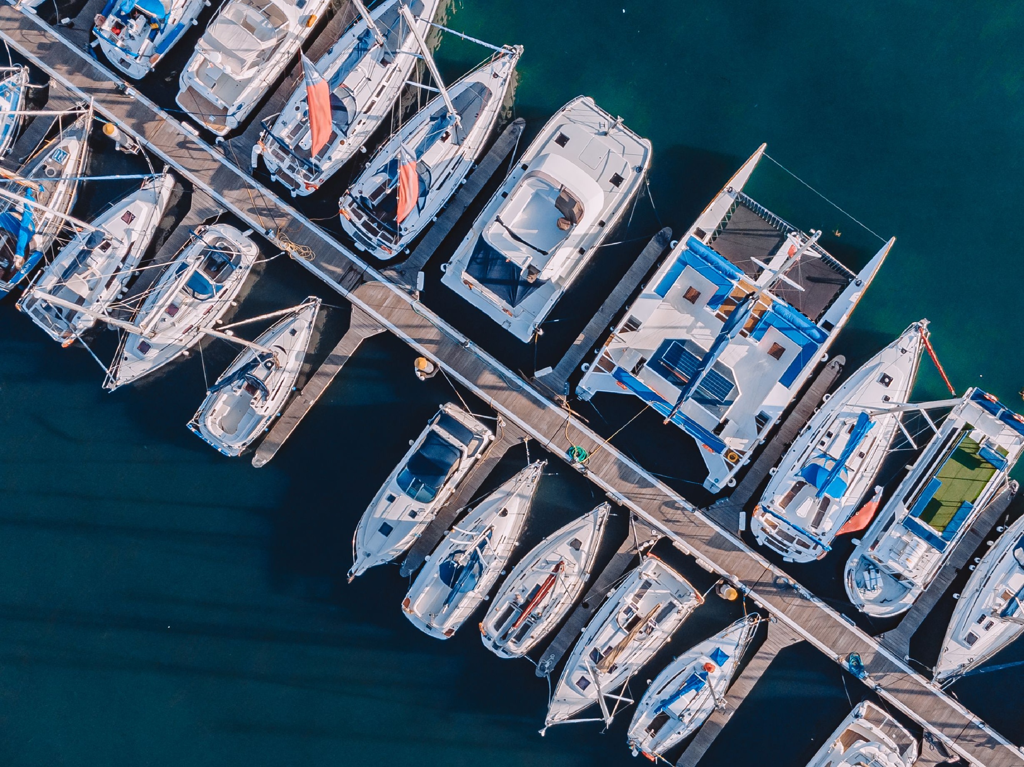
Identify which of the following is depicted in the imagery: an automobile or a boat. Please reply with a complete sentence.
Visible in the photo is a boat.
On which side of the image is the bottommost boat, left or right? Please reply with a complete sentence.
You can find the bottommost boat on the right side of the picture.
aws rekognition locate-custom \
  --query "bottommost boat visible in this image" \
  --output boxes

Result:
[798,699,918,767]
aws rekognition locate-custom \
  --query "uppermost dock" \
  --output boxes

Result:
[48,0,105,55]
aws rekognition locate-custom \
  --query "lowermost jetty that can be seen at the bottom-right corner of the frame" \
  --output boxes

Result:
[912,728,962,767]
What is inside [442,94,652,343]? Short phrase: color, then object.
white boat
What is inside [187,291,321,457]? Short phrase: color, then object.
white boat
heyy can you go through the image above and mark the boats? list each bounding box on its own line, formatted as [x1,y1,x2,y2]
[930,506,1024,688]
[539,551,704,737]
[798,699,918,767]
[575,144,896,494]
[846,387,1024,618]
[176,0,341,138]
[628,614,766,762]
[0,165,173,349]
[92,0,213,83]
[475,500,612,659]
[442,94,652,343]
[402,458,550,641]
[26,222,263,393]
[347,403,493,582]
[339,0,524,263]
[751,314,976,563]
[187,291,321,457]
[0,60,29,161]
[252,0,456,199]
